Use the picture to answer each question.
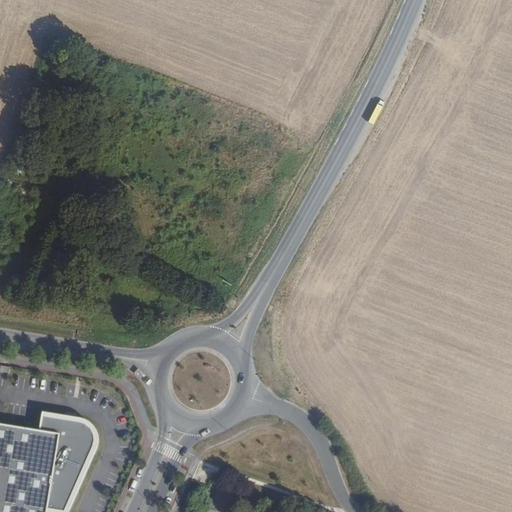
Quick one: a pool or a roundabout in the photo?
roundabout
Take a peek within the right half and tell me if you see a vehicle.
Yes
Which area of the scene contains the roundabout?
bottom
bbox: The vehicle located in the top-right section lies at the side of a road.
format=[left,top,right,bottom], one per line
[368,97,384,124]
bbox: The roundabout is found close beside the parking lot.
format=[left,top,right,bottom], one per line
[148,328,254,434]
